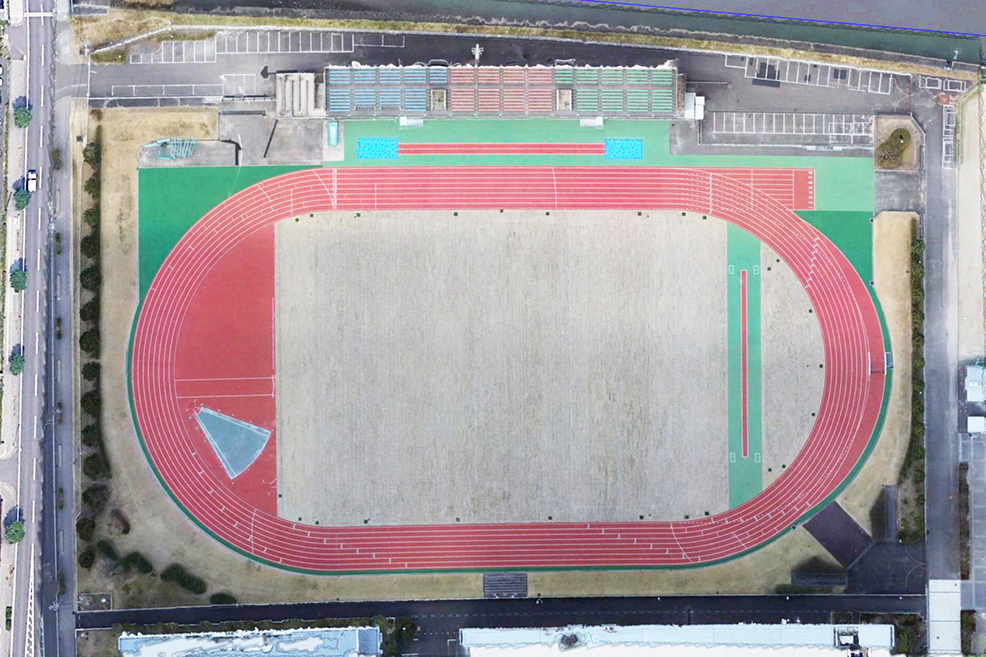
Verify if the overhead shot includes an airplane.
No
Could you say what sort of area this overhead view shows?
sports ground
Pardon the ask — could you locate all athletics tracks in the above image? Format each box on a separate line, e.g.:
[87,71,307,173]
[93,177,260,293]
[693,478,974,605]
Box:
[126,119,894,577]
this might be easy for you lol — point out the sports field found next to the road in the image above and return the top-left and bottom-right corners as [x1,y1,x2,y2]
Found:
[274,212,825,526]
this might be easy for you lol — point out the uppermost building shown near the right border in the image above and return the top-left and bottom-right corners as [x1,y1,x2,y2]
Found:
[966,366,984,402]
